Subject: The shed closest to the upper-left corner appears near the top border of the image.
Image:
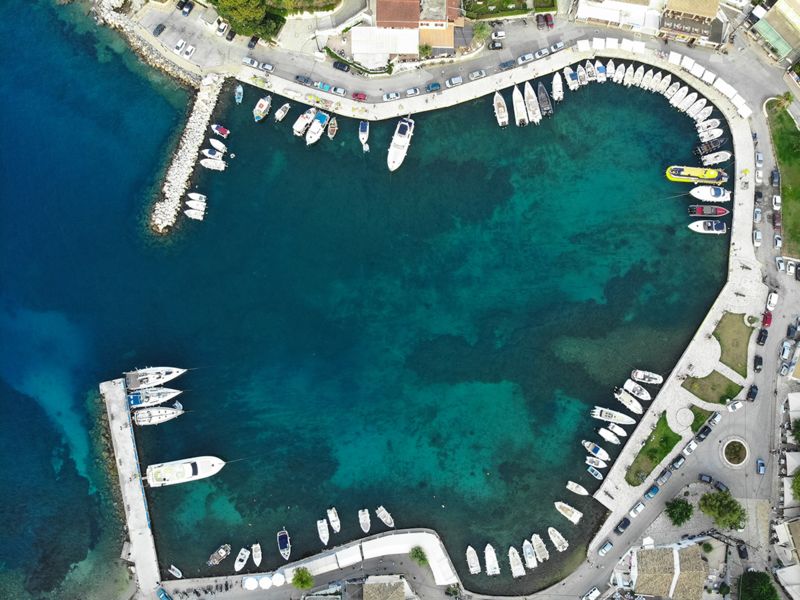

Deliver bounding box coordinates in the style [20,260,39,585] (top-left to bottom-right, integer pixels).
[199,6,220,33]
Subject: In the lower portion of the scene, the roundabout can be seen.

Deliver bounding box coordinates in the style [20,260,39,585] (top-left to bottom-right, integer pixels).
[719,437,751,469]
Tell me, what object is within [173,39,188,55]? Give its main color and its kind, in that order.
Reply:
white car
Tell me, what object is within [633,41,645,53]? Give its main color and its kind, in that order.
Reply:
white umbrella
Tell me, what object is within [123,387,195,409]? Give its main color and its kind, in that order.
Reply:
white boat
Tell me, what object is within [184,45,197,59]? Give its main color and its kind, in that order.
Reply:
white vehicle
